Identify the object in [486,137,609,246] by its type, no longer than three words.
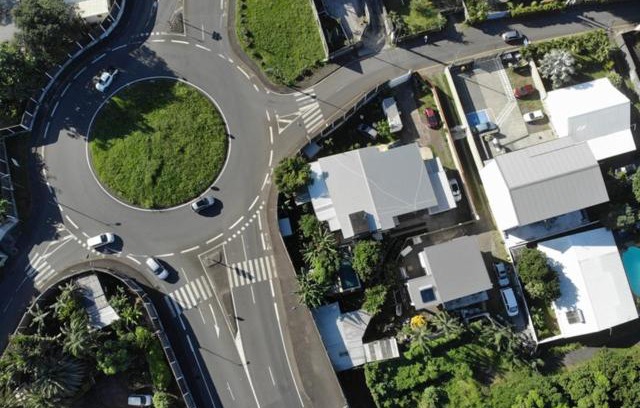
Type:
house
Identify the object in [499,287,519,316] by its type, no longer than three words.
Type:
vehicle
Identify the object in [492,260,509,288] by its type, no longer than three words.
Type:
car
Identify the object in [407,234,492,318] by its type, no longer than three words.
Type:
house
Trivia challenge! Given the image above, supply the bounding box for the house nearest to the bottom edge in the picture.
[312,303,371,371]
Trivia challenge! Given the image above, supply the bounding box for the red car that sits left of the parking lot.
[424,107,438,129]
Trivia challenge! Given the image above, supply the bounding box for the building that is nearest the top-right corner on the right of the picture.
[538,77,636,161]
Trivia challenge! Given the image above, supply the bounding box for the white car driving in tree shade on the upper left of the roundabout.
[95,67,117,91]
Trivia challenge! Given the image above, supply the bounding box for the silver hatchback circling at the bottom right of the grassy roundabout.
[191,196,216,213]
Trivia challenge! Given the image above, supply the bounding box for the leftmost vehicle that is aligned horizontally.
[86,232,116,249]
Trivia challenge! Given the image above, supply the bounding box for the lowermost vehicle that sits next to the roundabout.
[145,254,168,280]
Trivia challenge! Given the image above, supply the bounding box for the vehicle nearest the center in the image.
[357,122,379,140]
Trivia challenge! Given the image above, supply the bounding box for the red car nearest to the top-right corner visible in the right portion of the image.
[512,84,536,97]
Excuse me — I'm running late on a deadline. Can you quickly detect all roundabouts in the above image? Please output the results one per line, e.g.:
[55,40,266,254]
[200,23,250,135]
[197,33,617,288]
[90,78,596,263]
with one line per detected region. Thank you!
[45,41,272,257]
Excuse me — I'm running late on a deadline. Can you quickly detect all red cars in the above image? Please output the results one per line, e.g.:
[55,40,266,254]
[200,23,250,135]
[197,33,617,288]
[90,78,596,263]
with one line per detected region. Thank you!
[512,84,536,97]
[424,107,438,129]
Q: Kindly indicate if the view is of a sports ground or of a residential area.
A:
residential area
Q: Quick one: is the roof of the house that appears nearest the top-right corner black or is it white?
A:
white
